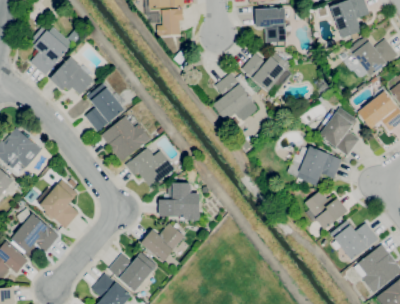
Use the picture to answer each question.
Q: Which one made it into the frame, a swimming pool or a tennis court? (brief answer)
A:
swimming pool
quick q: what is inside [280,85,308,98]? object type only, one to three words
swimming pool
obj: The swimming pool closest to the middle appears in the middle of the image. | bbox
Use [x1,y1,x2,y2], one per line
[158,134,180,160]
